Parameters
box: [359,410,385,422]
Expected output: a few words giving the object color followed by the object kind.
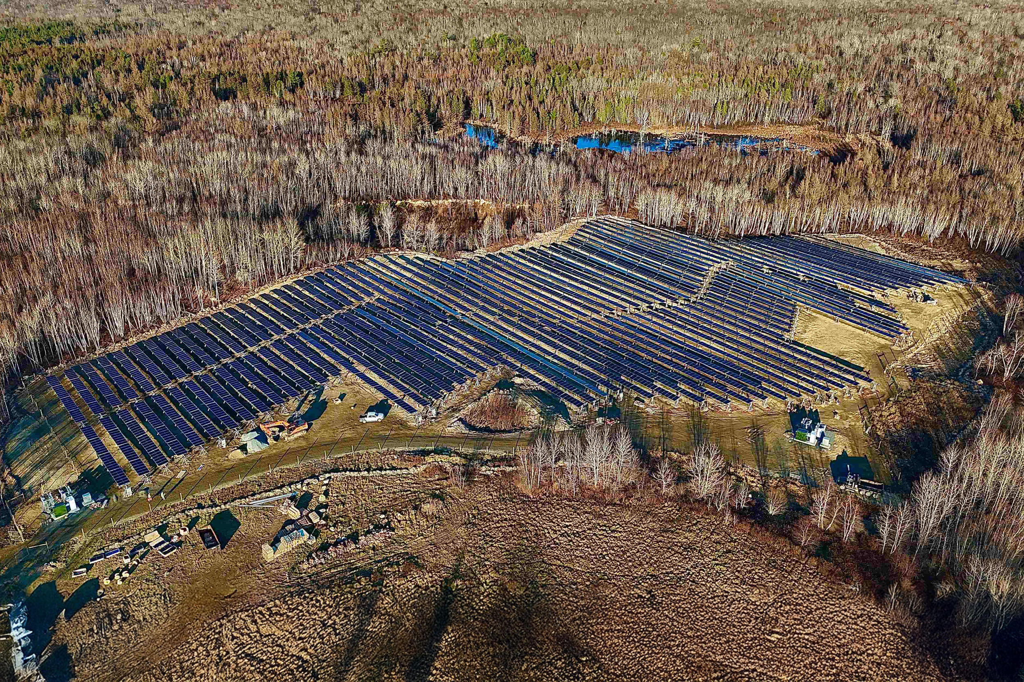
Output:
white vehicle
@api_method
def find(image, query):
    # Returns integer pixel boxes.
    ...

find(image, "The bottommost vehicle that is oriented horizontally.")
[835,472,887,499]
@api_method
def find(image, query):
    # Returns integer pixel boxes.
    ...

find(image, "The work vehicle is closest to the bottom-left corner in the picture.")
[263,420,305,443]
